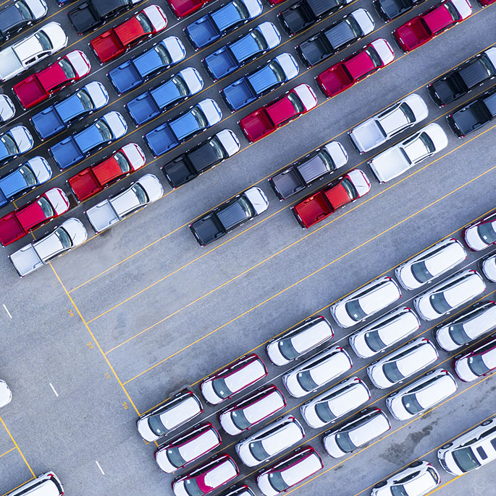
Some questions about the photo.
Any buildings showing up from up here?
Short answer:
No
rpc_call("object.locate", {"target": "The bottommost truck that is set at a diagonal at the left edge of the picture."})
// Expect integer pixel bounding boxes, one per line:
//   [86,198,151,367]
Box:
[8,222,84,278]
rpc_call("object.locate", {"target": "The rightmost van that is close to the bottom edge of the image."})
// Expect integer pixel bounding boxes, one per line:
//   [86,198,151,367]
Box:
[438,416,496,473]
